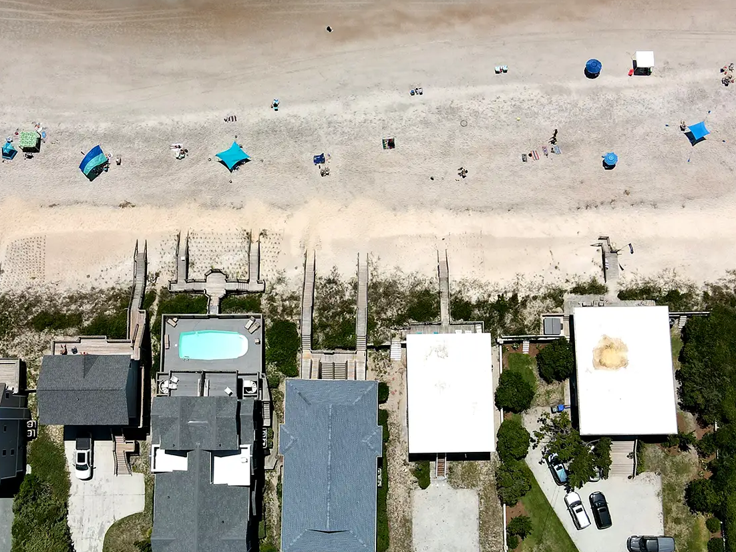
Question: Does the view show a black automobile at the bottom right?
Yes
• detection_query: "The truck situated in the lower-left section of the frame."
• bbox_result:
[73,435,94,480]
